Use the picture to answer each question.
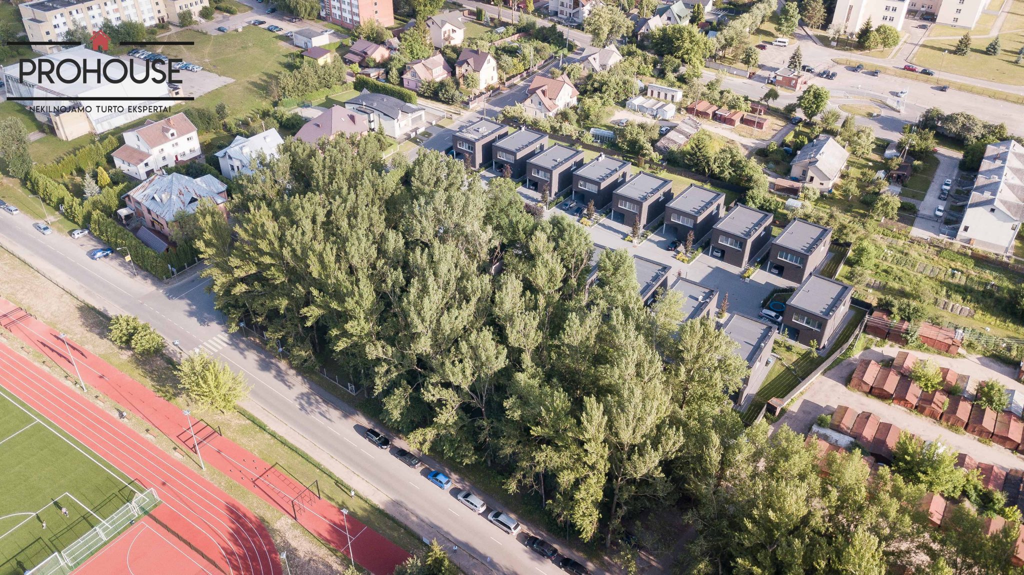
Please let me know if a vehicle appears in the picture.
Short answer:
Yes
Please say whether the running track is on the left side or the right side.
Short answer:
left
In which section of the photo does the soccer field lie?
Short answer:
bottom left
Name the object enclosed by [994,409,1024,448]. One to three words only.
building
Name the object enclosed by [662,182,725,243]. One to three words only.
house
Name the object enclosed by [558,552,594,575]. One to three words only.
car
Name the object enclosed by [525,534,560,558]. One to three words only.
car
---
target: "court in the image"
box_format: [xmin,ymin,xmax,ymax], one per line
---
[69,515,203,575]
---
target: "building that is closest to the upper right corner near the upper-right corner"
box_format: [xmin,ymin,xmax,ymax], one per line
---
[935,0,993,30]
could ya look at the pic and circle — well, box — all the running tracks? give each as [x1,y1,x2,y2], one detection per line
[0,339,282,575]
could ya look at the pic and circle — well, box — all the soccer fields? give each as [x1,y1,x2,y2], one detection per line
[0,384,162,575]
